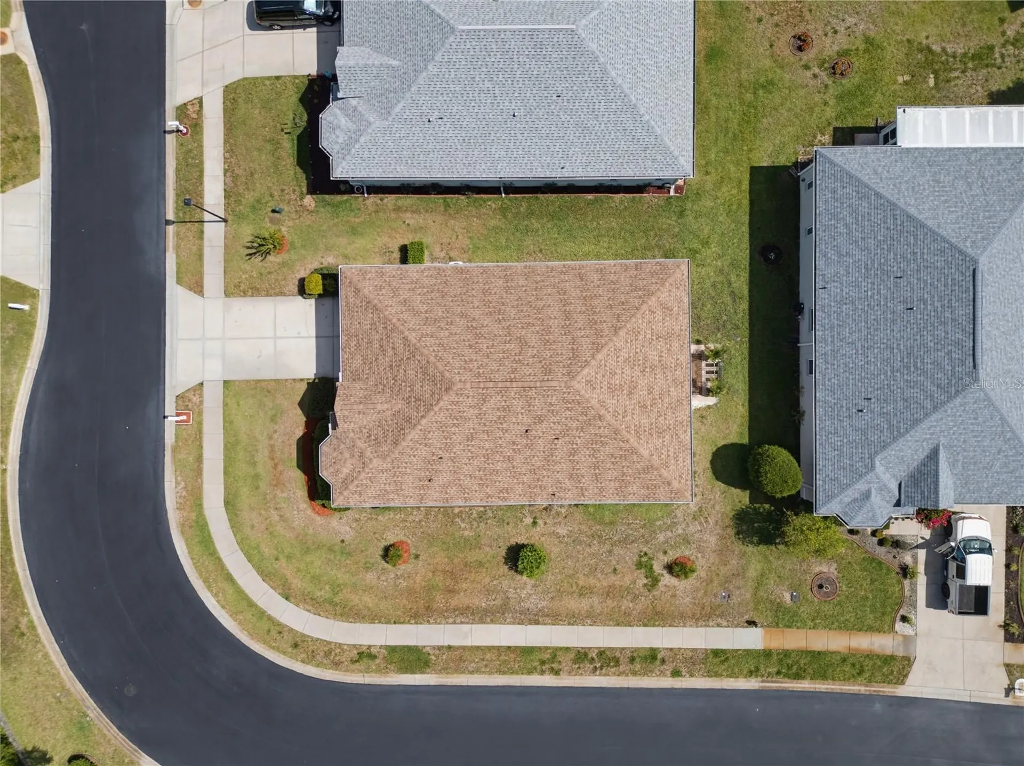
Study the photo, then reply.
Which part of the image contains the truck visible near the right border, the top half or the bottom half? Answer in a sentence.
Seen from above, the truck visible near the right border lies in the bottom half of the view.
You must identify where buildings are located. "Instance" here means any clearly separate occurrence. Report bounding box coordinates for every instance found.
[790,105,1024,528]
[319,260,693,508]
[319,0,695,193]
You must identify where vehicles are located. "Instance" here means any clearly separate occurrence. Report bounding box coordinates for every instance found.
[930,513,994,616]
[253,0,342,25]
